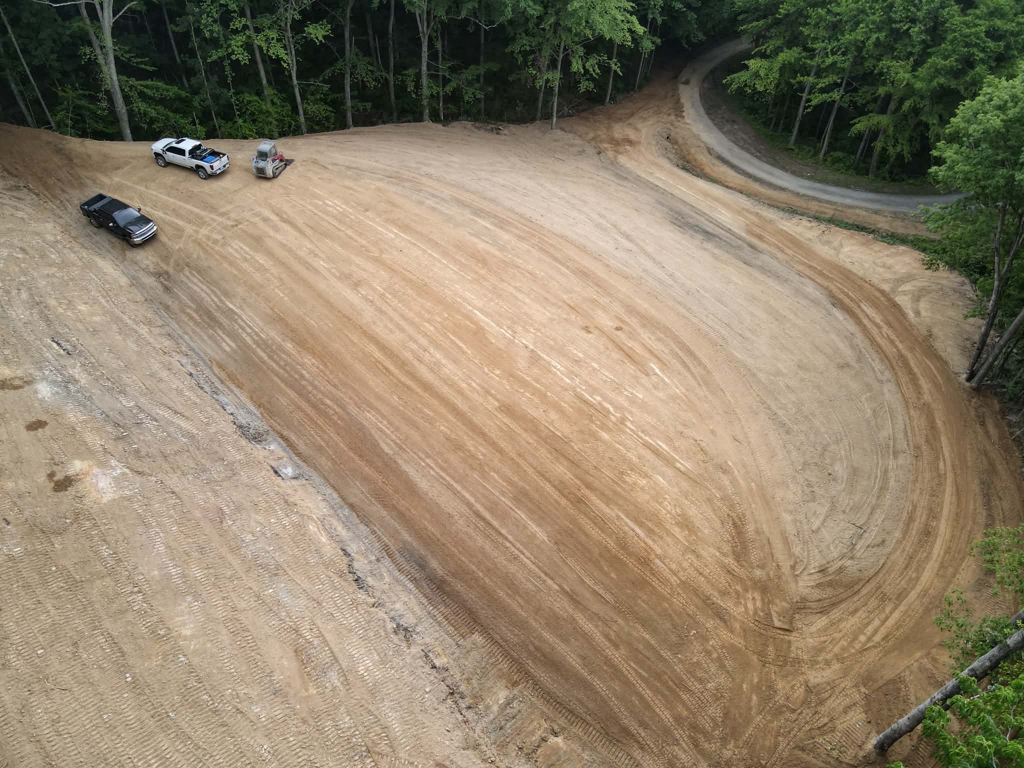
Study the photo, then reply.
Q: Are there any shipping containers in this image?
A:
No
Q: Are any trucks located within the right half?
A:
No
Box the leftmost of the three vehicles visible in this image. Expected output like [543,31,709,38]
[81,195,162,248]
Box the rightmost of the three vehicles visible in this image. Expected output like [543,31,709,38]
[250,140,293,178]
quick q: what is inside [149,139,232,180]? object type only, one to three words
truck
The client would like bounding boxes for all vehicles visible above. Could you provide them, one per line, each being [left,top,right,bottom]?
[250,140,293,178]
[149,139,232,180]
[81,195,162,248]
